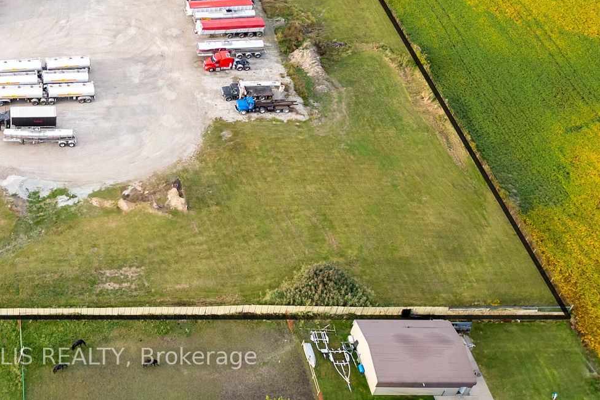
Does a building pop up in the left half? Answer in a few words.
No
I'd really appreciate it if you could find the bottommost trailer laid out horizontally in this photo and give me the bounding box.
[3,126,78,146]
